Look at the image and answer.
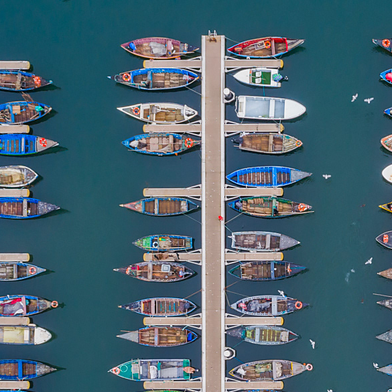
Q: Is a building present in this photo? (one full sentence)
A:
No, no building can be seen from above.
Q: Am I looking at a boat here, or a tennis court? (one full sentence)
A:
Looking from above, you can make out a boat.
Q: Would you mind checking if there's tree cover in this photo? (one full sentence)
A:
No, tree cover can't be seen anywhere here.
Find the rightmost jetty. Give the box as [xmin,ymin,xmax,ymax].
[143,29,285,392]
